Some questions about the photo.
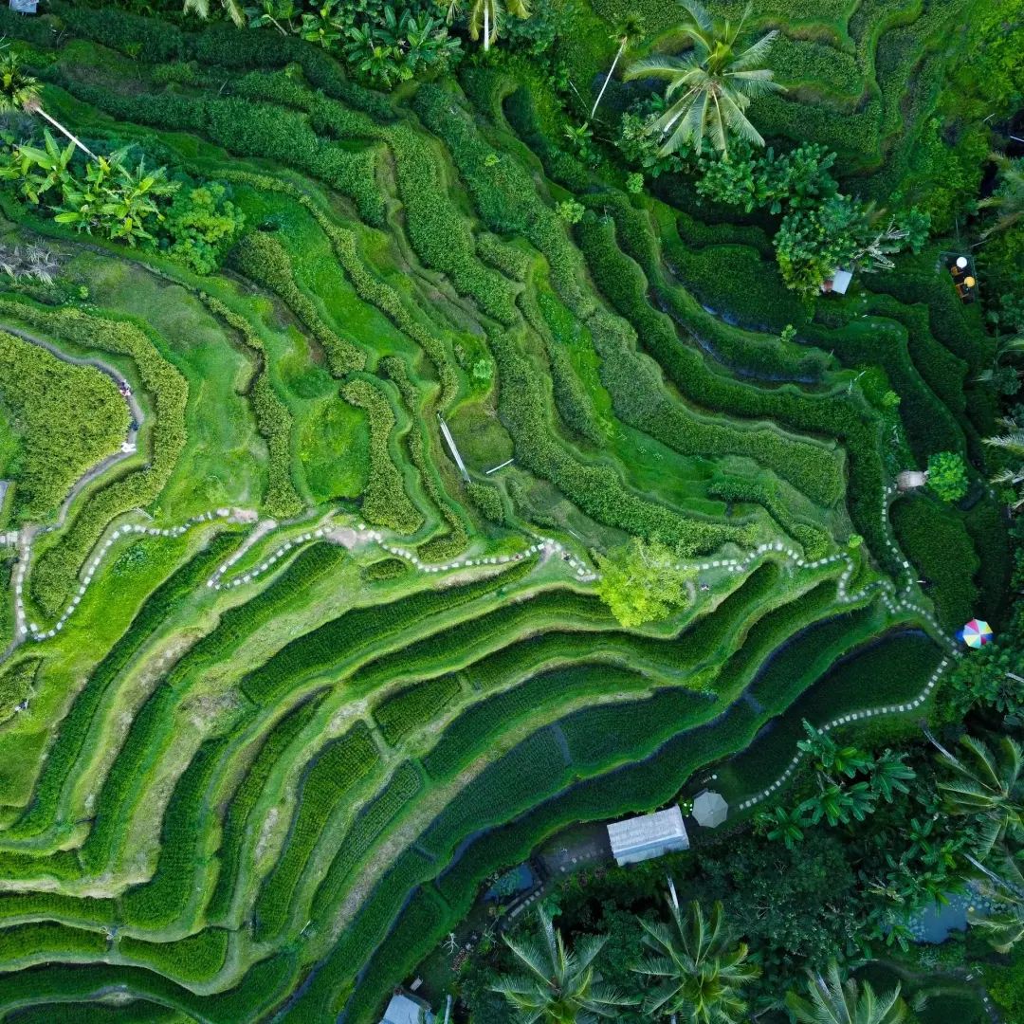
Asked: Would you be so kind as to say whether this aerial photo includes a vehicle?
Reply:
No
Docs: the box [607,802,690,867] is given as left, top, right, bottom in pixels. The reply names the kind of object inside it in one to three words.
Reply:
shed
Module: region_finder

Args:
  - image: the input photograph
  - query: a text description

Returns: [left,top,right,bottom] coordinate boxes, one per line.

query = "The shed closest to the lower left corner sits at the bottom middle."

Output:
[376,990,435,1024]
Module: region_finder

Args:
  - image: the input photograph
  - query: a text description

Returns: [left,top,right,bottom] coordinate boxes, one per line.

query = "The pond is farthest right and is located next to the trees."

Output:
[891,879,1024,943]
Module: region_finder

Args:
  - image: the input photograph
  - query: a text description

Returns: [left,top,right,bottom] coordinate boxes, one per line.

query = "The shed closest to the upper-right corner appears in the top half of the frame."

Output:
[822,269,853,298]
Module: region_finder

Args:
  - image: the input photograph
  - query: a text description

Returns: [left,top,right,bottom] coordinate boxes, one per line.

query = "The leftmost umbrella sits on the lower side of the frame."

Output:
[693,791,729,827]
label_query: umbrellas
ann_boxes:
[959,617,992,648]
[693,791,729,827]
